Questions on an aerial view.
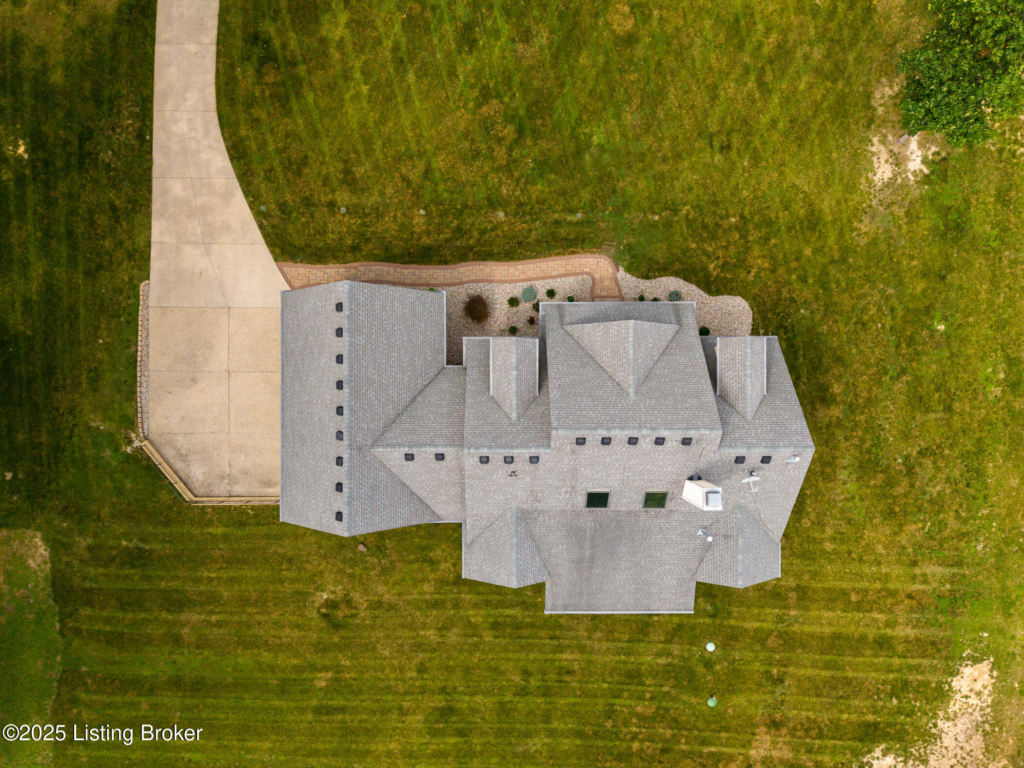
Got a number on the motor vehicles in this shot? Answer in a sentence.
The count of motor vehicles is 0.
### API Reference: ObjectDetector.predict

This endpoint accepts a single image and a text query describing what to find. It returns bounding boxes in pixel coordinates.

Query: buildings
[279,280,815,614]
